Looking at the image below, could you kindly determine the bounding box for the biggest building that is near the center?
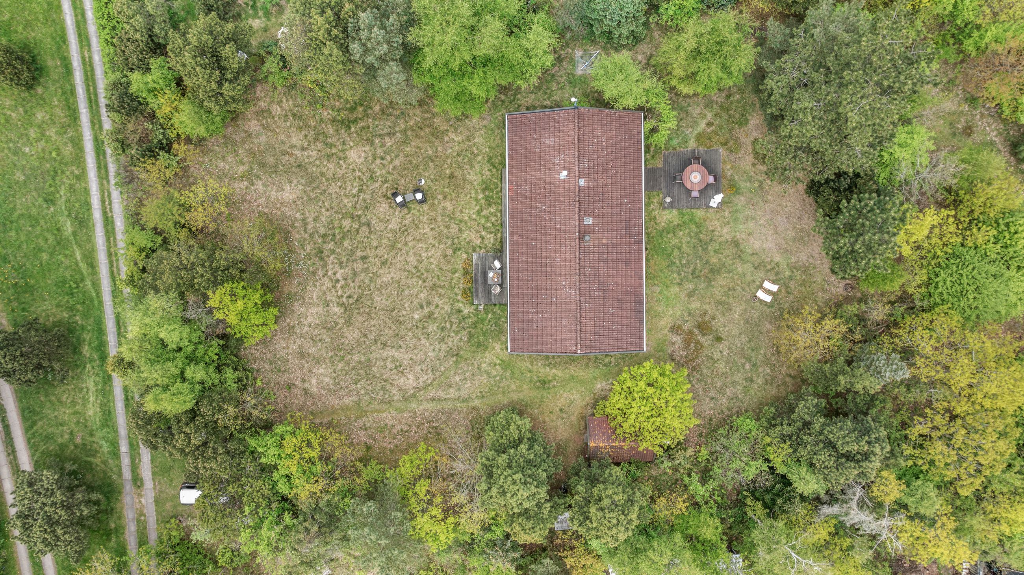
[505,106,646,355]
